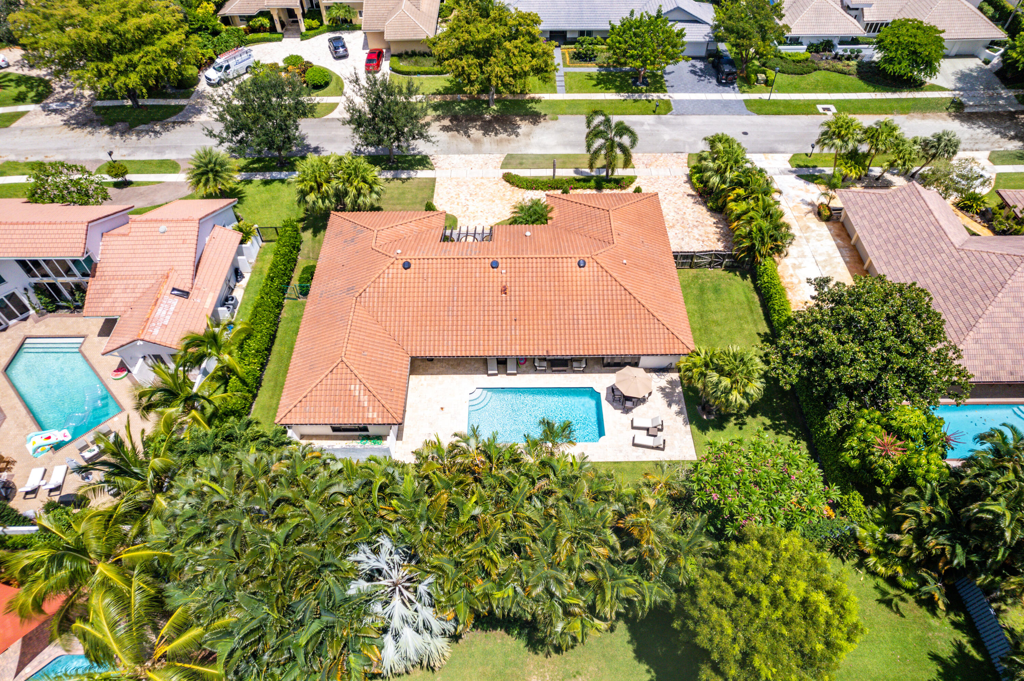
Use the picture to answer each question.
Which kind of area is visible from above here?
residential area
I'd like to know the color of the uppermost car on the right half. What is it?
black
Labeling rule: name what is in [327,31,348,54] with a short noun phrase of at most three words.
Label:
car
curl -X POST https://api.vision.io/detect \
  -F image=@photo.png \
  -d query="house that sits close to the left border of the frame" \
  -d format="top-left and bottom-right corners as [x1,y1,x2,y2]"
[0,197,244,392]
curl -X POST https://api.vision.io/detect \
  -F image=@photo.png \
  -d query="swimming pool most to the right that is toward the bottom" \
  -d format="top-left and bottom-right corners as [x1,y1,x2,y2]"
[927,402,1024,462]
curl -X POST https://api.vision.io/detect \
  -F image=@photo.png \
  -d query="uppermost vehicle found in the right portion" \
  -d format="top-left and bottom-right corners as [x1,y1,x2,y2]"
[715,52,736,77]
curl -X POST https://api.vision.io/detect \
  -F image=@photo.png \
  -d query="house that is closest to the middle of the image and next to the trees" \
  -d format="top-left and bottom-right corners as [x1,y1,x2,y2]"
[273,190,694,463]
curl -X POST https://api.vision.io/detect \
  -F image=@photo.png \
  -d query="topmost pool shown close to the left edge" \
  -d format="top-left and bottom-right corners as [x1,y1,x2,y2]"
[0,333,125,455]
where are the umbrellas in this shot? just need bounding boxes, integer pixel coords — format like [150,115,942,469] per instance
[615,365,653,400]
[67,460,93,500]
